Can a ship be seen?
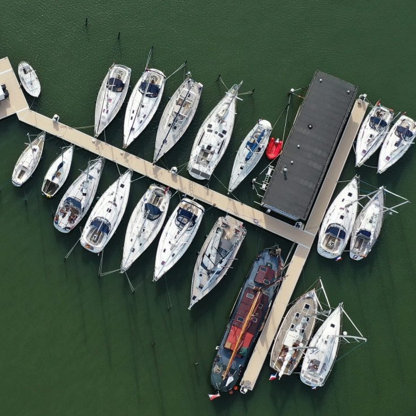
Yes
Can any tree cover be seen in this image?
No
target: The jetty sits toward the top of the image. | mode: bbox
[303,99,369,233]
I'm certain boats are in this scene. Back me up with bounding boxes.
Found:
[153,71,205,165]
[296,304,368,393]
[271,278,333,383]
[69,171,142,270]
[315,177,383,265]
[227,110,285,194]
[376,107,416,175]
[266,136,285,160]
[153,195,214,307]
[71,59,130,142]
[103,183,170,291]
[186,210,247,314]
[347,186,410,264]
[19,61,40,99]
[353,97,402,168]
[54,155,104,234]
[43,144,77,199]
[122,49,186,149]
[13,130,55,187]
[182,75,254,187]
